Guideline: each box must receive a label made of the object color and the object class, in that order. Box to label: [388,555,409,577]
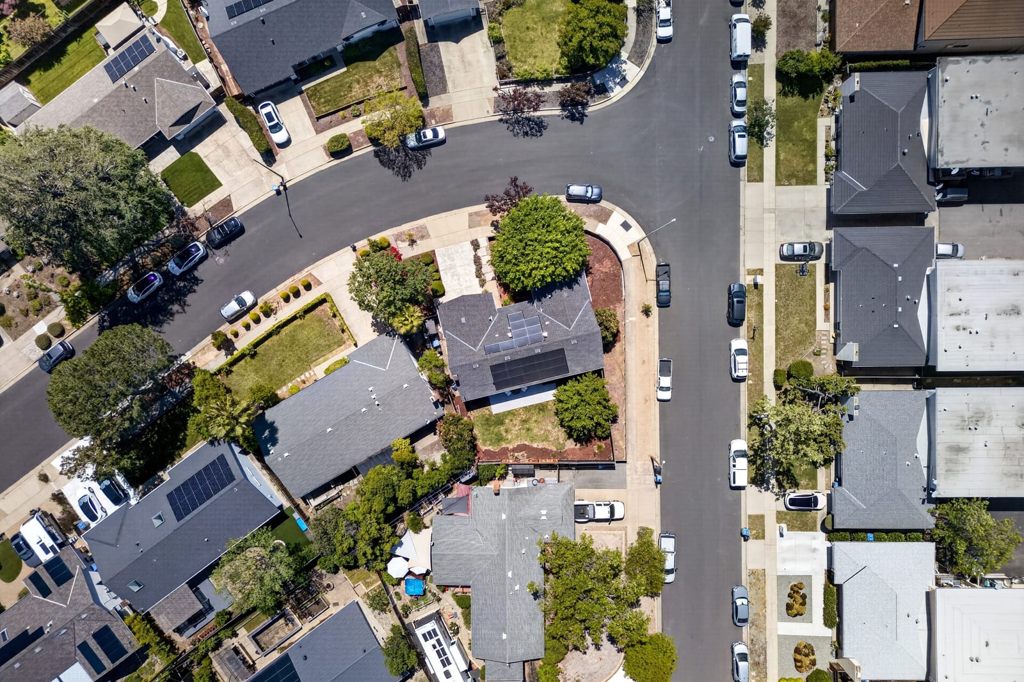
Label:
white umbrella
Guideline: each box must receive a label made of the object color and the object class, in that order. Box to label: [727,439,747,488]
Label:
white vehicle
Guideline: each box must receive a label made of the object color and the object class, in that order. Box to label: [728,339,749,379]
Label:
white car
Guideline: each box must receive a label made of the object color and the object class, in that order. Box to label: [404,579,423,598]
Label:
blue swimming pool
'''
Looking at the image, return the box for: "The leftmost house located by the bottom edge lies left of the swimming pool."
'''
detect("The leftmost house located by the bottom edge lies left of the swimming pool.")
[0,544,144,682]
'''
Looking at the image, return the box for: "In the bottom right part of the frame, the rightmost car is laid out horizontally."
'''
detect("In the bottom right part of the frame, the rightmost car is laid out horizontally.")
[782,492,825,513]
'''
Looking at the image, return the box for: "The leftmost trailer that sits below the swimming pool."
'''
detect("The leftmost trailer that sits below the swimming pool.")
[411,599,469,682]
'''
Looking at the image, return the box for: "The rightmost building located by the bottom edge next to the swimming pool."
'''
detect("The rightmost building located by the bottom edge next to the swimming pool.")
[430,479,575,665]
